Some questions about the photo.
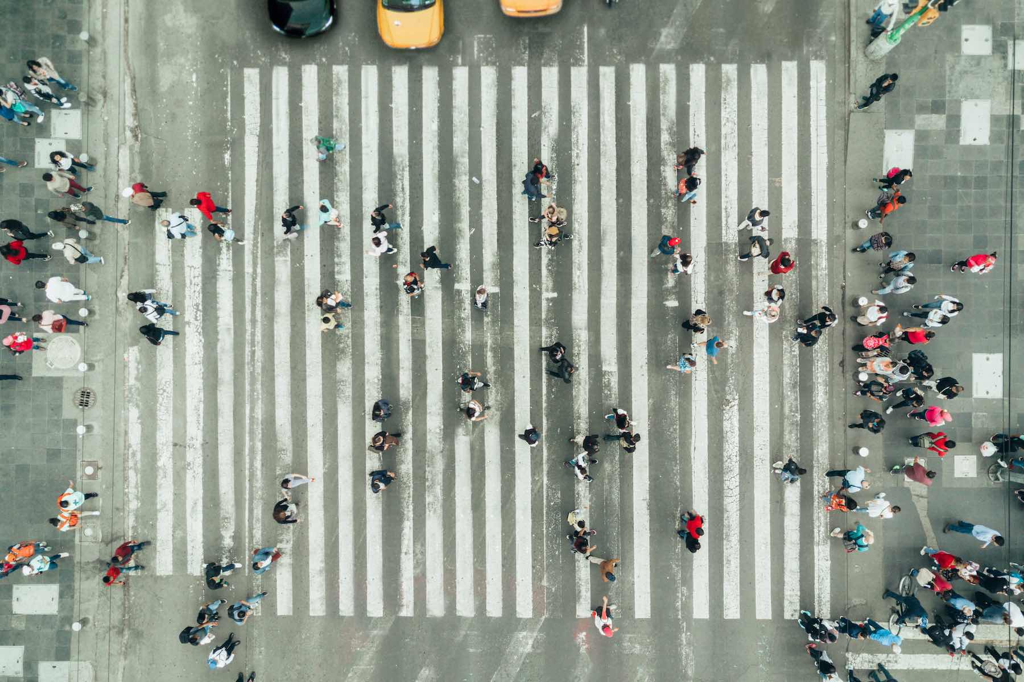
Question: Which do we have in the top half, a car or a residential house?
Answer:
car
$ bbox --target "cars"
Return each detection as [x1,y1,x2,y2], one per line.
[266,0,338,41]
[501,0,561,21]
[377,0,444,52]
